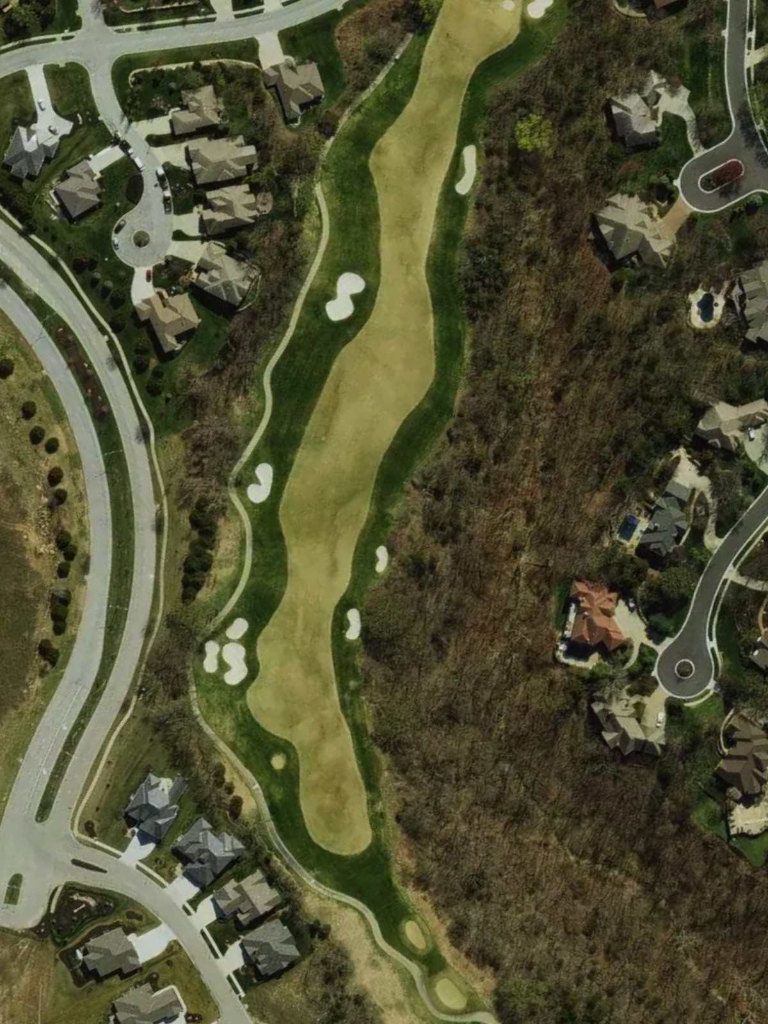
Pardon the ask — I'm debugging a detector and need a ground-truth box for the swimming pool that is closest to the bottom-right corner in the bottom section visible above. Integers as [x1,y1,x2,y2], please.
[555,602,600,669]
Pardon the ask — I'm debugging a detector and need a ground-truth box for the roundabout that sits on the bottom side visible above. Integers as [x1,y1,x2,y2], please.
[659,644,712,696]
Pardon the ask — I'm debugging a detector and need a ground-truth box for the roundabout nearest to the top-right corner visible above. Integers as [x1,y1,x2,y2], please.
[684,147,756,207]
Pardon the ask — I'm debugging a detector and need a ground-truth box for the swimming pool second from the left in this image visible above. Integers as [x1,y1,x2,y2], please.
[615,508,649,554]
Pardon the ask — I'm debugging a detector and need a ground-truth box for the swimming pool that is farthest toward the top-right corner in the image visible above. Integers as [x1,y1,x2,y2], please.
[689,280,730,328]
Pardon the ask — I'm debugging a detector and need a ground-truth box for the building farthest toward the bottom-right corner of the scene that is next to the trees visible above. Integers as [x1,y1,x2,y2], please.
[723,709,768,793]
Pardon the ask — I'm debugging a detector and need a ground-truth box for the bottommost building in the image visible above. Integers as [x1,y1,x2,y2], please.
[107,983,183,1024]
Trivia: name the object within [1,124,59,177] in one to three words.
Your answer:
house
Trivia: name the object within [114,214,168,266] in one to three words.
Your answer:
roundabout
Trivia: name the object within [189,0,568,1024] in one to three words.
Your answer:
golf course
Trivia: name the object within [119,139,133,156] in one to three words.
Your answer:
vehicle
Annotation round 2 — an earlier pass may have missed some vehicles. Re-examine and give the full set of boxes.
[155,166,167,191]
[146,269,151,282]
[115,220,125,233]
[165,191,172,214]
[37,99,46,111]
[112,238,120,250]
[48,125,59,136]
[626,597,634,609]
[656,713,663,727]
[119,139,133,156]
